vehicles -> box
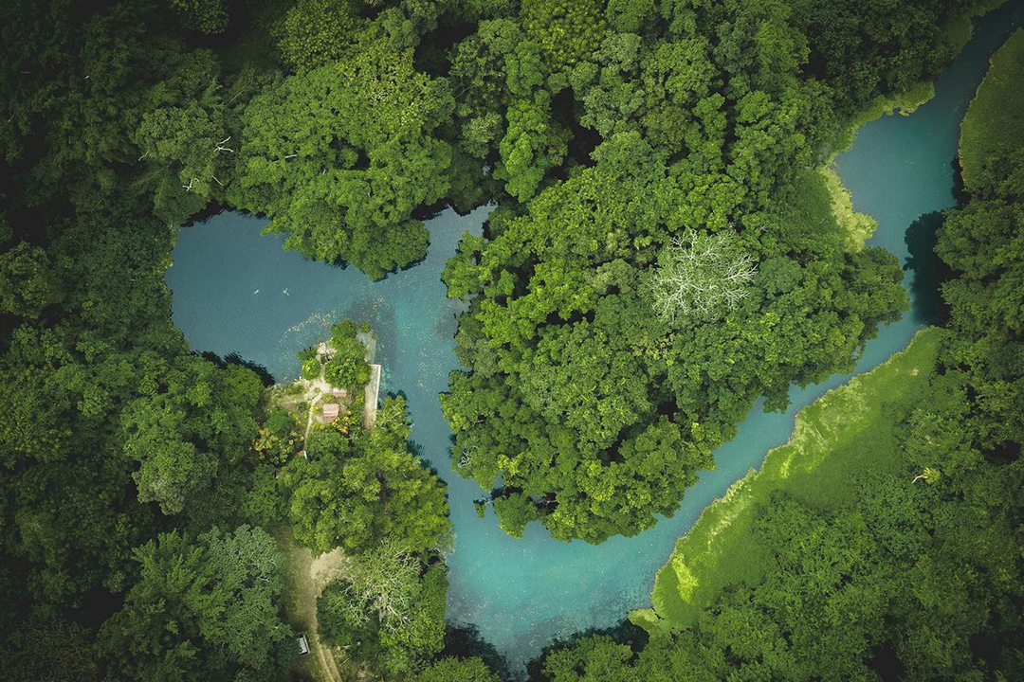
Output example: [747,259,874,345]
[296,636,310,657]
